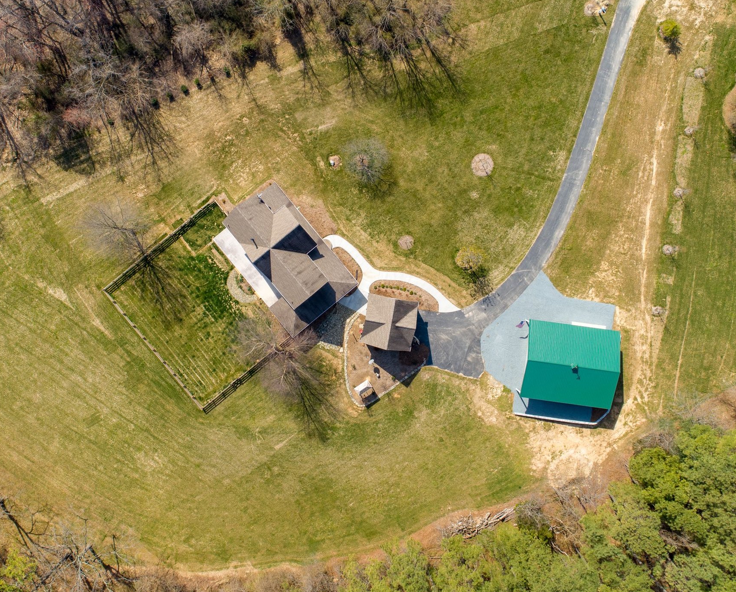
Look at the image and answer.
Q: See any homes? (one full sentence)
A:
Yes, a home appears in the view.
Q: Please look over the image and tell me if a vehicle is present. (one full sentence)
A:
No, the photo shows no vehicle.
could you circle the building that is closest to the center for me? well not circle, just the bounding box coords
[360,292,422,352]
